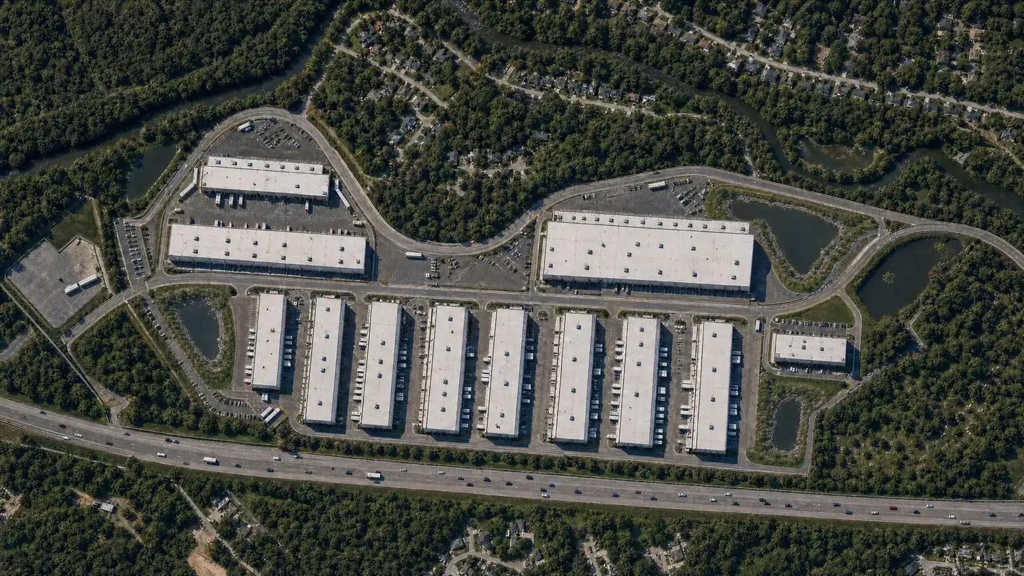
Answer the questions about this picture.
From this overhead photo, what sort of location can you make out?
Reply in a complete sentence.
It's a residential area.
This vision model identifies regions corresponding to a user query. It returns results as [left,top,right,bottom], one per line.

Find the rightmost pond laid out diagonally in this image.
[857,238,963,322]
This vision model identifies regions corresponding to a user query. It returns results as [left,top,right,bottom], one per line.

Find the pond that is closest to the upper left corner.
[125,144,179,201]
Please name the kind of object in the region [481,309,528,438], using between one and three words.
building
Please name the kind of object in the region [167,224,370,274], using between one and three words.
building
